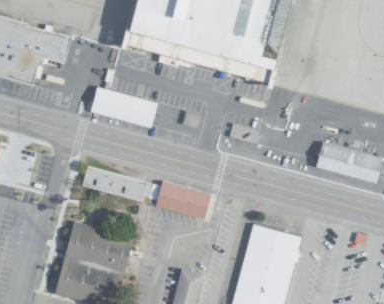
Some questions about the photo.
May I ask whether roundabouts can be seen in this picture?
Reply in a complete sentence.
No, I can see no roundabout in this picture.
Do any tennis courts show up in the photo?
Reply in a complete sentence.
No, this view has no tennis court in it.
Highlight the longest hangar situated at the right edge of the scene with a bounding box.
[316,142,383,183]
